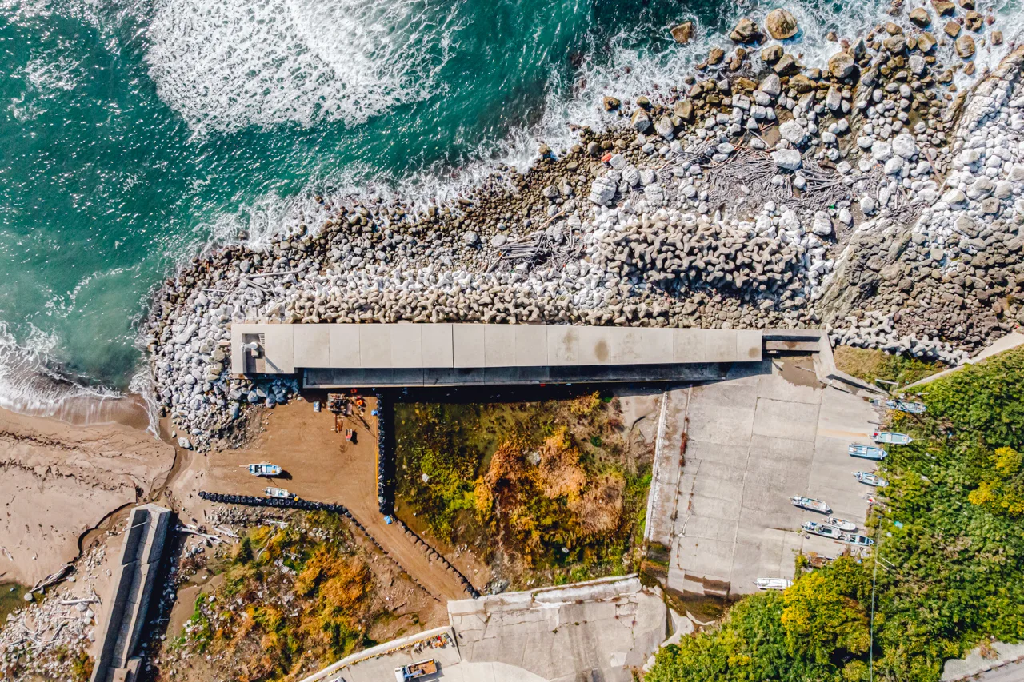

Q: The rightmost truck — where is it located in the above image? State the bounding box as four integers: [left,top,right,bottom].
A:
[393,657,438,682]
